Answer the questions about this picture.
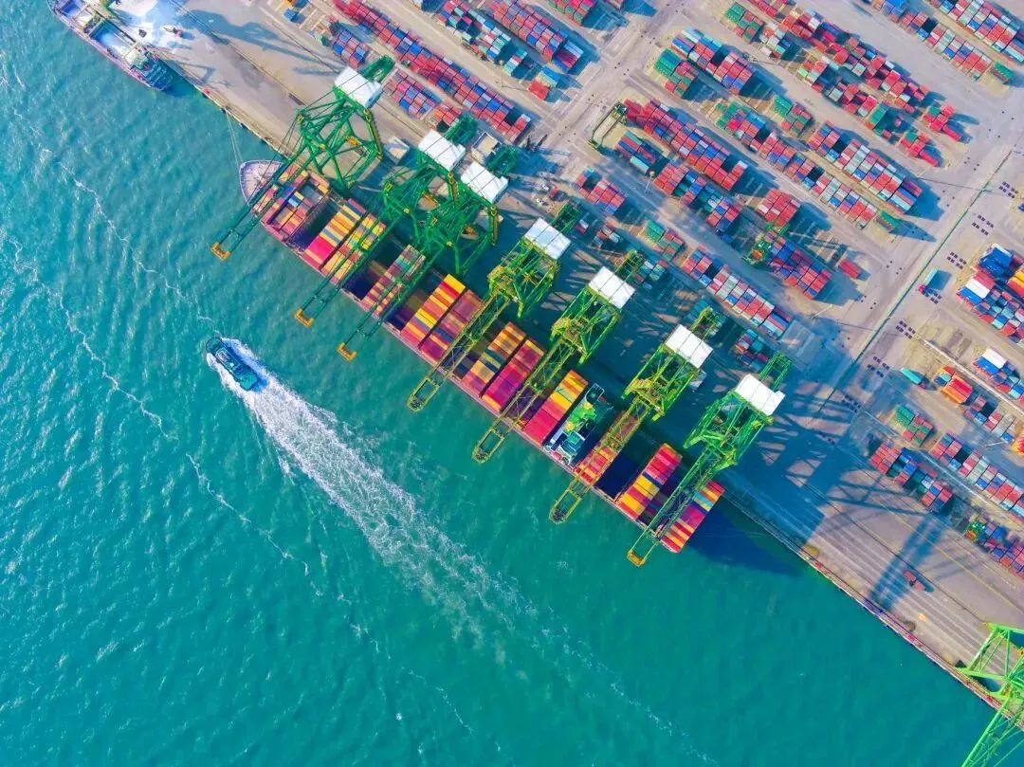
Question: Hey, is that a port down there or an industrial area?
port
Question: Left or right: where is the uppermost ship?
left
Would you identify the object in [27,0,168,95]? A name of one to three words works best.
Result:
ship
